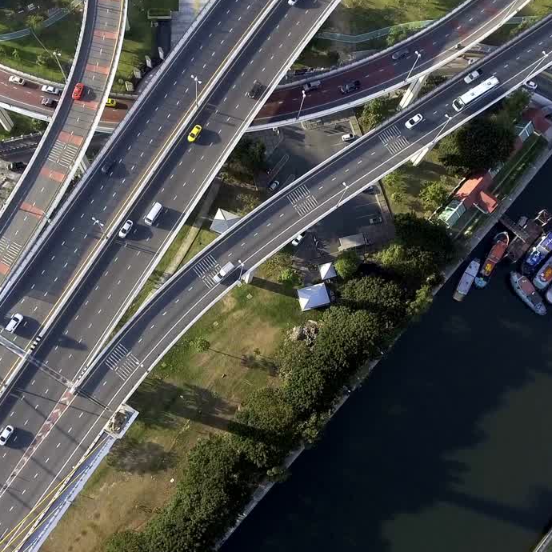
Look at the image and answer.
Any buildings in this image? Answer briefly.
Yes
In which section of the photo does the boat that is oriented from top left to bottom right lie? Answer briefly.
right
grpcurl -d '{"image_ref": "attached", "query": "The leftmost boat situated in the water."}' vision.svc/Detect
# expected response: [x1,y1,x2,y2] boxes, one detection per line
[453,256,480,302]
